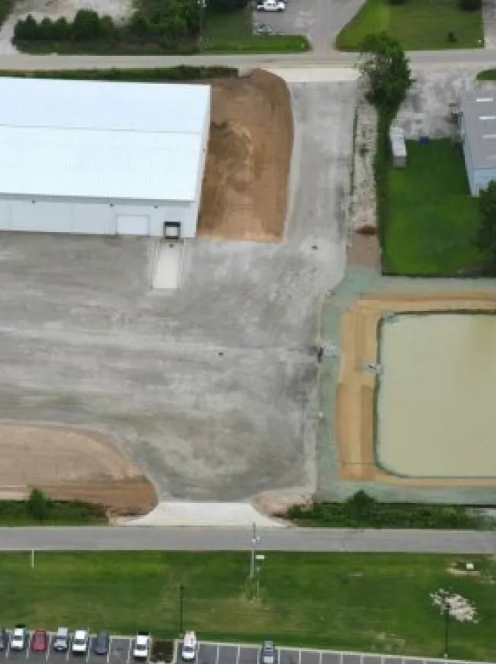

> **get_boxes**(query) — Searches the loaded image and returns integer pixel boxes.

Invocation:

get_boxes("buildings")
[0,76,210,242]
[449,86,496,196]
